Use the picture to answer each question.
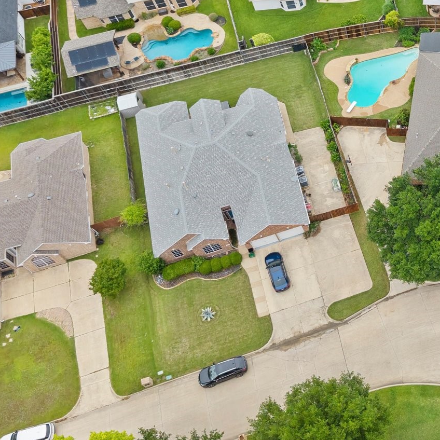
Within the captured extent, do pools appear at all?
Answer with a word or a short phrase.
Yes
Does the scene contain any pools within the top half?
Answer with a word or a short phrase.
Yes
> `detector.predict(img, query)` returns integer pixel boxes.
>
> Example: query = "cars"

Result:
[264,250,293,296]
[1,419,59,440]
[197,353,253,390]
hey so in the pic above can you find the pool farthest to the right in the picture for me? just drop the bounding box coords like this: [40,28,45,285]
[346,46,419,109]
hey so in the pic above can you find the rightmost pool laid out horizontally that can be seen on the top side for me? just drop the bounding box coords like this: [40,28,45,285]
[139,26,216,61]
